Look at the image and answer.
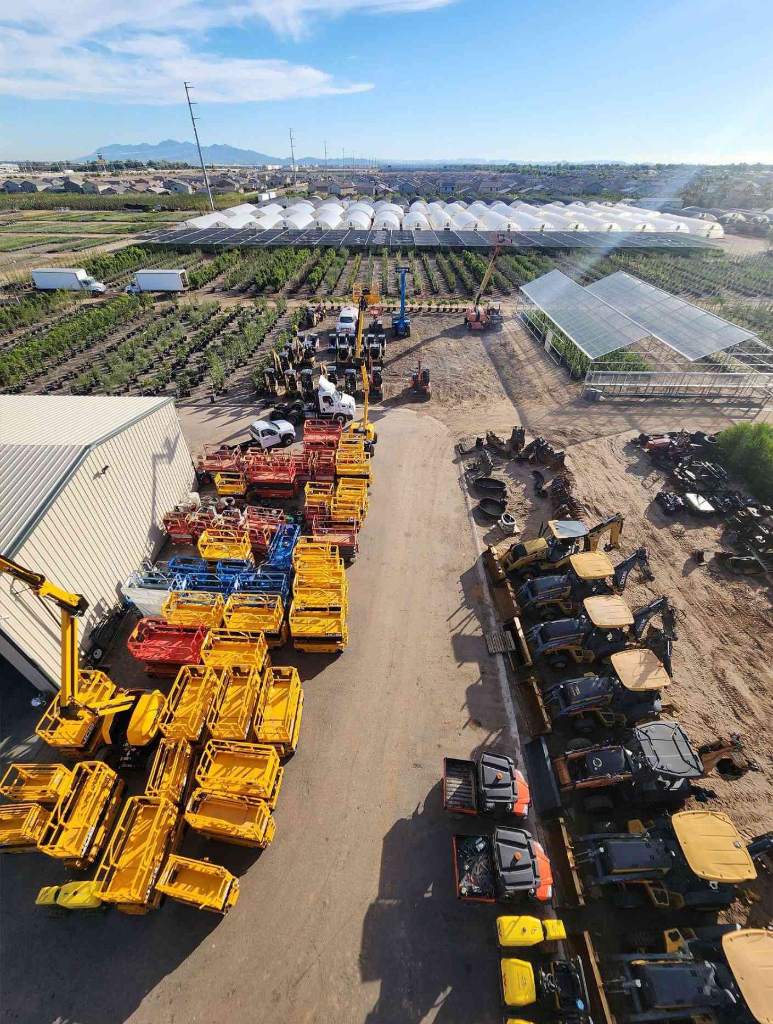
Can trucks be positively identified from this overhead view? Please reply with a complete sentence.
Yes, this view includes a truck.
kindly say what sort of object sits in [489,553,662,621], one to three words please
work vehicle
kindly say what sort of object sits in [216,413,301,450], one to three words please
truck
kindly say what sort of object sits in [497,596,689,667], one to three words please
work vehicle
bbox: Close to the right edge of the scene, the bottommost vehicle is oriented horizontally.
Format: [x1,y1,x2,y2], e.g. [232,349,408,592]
[553,922,773,1024]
